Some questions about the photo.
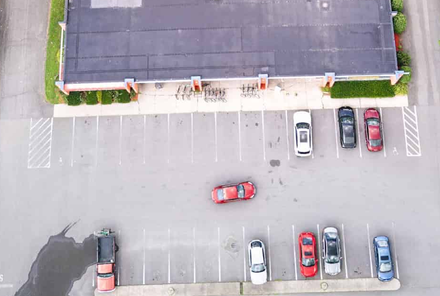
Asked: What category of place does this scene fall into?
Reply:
parking lot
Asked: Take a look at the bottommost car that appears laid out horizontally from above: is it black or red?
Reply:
red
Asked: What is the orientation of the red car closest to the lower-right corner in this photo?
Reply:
from top to bottom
